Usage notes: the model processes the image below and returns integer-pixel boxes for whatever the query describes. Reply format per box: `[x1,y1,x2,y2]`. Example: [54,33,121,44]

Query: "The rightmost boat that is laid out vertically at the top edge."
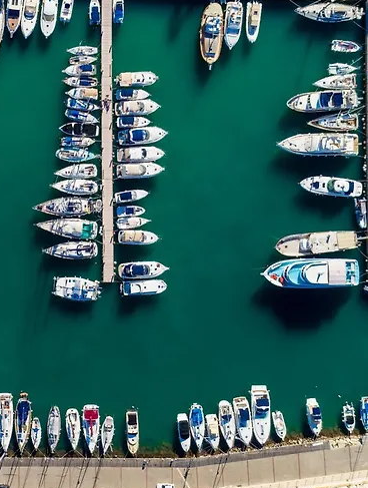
[245,0,261,42]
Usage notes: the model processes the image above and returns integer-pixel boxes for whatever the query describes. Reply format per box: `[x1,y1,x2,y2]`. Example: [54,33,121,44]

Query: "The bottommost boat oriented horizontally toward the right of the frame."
[264,256,366,292]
